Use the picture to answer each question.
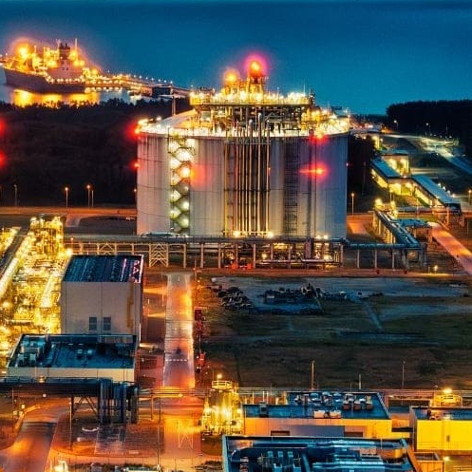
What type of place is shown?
industrial area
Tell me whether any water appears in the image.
Yes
